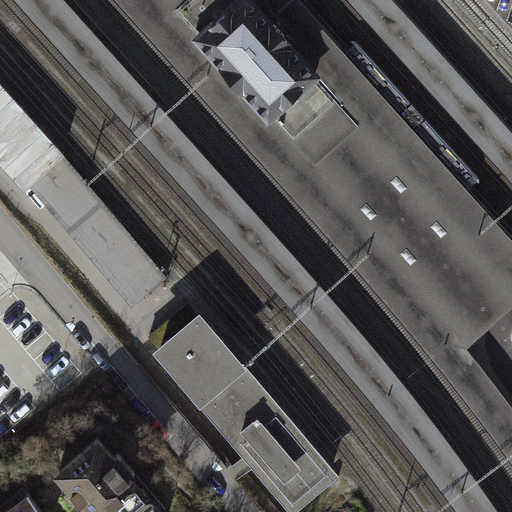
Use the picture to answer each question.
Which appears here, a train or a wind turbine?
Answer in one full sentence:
The image shows a train.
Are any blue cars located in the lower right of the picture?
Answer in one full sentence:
No, I see no blue car in the lower right of the picture.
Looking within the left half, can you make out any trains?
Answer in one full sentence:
No, no train is visible within the left half.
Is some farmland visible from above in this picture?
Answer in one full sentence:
No, no farmland is visible.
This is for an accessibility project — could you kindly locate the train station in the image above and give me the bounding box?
[192,0,321,126]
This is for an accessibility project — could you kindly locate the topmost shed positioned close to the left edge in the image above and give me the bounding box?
[0,82,64,192]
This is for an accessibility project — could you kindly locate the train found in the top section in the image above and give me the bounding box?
[346,40,477,186]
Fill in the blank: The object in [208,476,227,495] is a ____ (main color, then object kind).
blue car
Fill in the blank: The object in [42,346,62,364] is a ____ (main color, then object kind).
blue car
